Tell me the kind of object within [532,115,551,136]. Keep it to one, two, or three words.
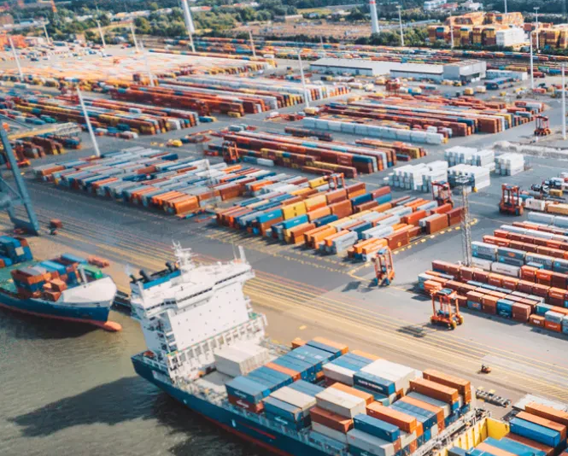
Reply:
work vehicle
